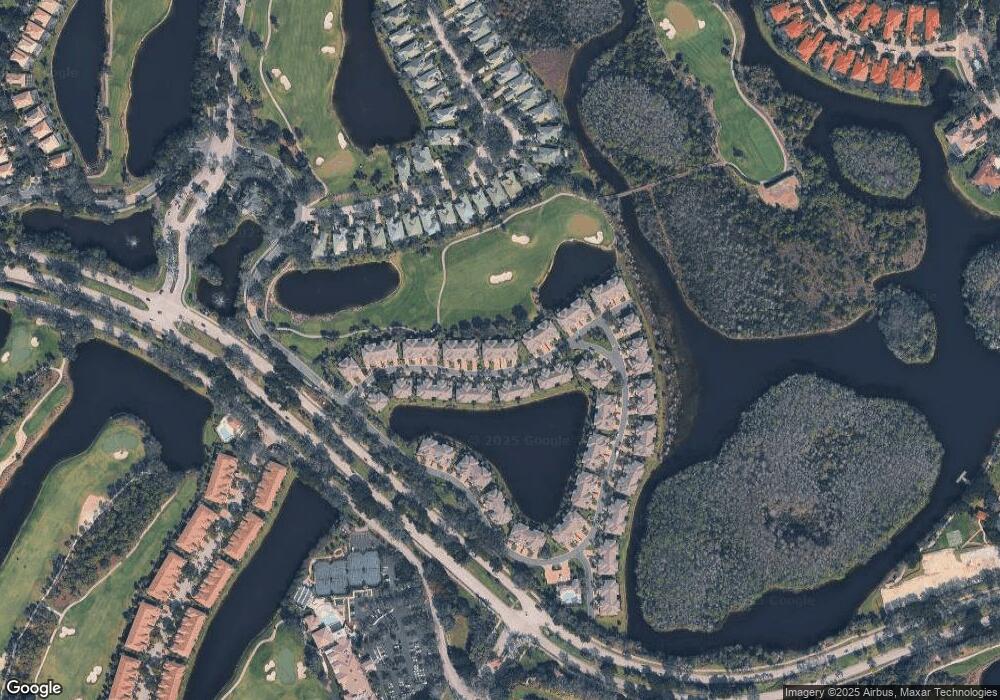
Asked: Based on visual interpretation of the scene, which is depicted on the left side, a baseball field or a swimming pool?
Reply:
swimming pool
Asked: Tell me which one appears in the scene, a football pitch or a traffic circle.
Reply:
traffic circle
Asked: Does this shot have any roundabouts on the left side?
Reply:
Yes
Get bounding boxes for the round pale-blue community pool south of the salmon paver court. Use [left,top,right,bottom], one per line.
[559,587,582,605]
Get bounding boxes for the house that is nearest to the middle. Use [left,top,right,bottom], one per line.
[481,338,519,363]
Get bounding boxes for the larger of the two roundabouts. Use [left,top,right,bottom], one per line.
[164,168,226,236]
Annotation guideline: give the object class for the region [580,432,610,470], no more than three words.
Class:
house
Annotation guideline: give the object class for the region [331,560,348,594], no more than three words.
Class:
tennis court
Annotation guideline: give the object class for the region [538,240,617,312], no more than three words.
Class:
pond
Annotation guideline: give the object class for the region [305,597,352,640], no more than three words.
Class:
swimming pool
